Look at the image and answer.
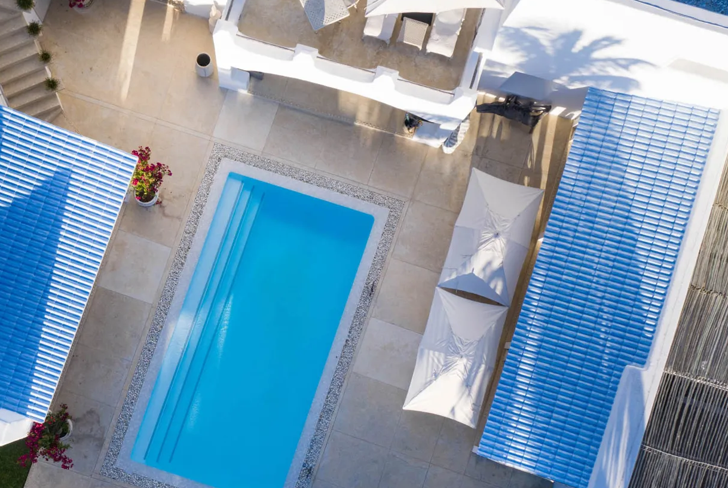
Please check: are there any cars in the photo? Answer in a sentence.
No, I can't see a single car in this photo.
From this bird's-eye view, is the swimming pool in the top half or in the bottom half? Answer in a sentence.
Seen from above, the swimming pool lies in the bottom half of the view.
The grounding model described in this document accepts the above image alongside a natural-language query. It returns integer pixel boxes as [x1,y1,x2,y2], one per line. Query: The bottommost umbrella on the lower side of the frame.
[403,288,508,429]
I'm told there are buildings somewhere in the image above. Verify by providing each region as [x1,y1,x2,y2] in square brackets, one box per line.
[214,0,524,147]
[0,102,137,447]
[475,89,728,488]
